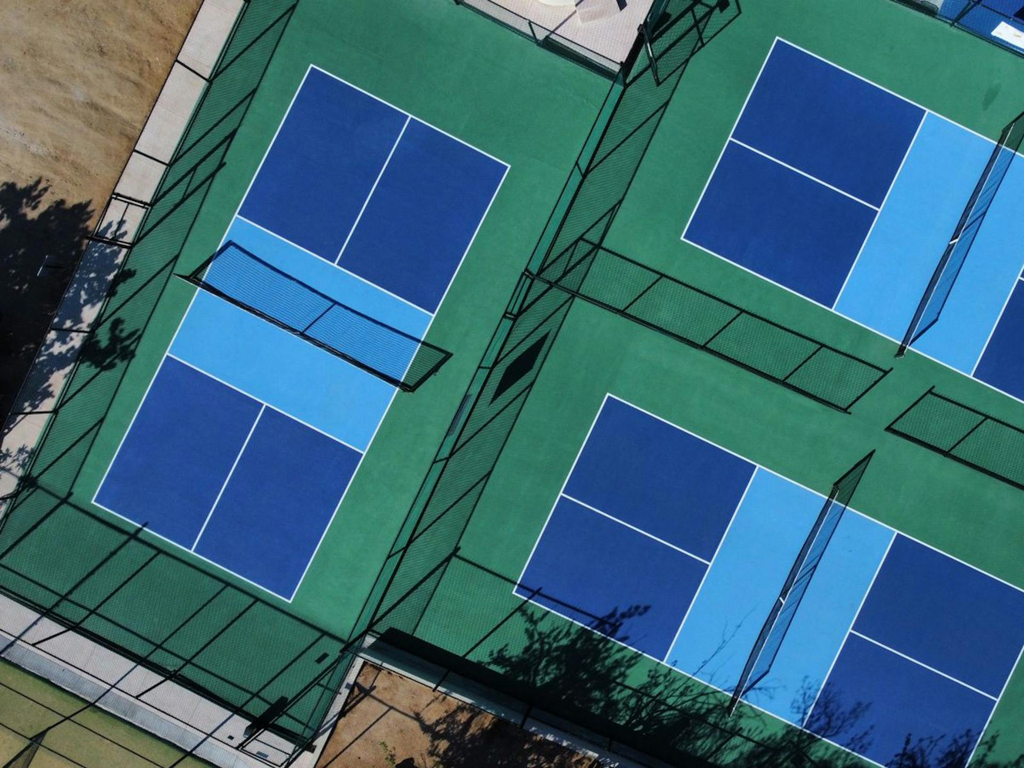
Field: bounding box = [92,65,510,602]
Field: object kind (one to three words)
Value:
sports court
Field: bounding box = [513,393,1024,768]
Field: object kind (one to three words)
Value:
sports court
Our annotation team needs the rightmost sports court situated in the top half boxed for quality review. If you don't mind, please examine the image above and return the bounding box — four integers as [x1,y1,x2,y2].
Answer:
[682,37,1024,402]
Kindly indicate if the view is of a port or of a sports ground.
sports ground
